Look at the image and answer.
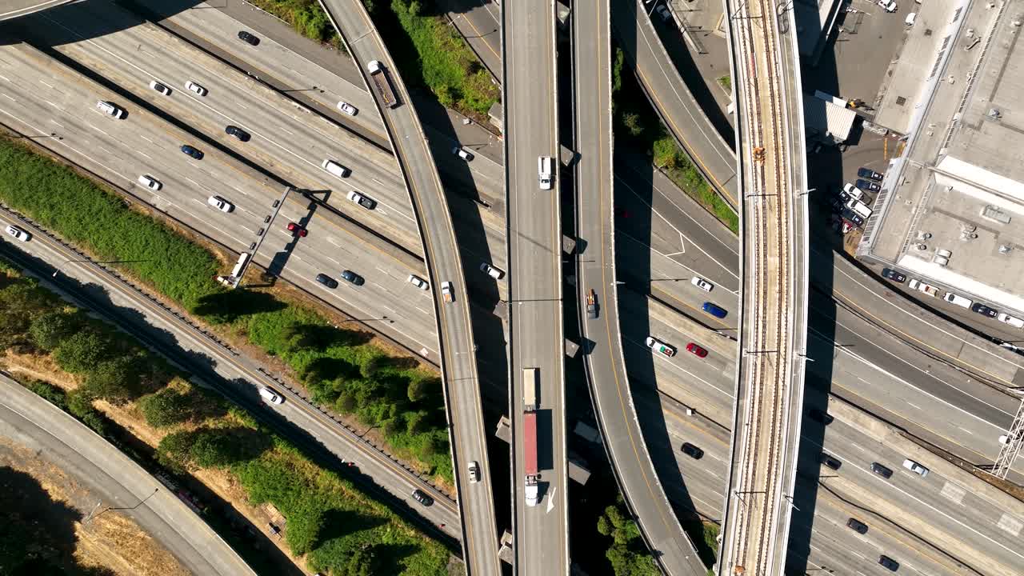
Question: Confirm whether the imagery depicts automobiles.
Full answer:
Yes, an automobile appears in the view.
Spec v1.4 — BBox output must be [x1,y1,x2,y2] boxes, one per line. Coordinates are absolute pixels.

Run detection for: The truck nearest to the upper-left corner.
[95,99,124,120]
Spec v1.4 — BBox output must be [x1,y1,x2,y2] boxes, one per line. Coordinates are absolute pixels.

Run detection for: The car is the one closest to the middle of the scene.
[480,263,502,280]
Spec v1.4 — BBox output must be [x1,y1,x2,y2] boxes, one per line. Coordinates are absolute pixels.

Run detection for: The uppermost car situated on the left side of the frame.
[239,30,260,46]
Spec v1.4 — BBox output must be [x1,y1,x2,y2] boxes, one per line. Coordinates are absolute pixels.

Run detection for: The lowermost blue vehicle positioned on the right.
[703,301,725,318]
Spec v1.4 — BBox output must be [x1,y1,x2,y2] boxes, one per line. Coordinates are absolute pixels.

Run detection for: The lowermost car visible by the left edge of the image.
[5,224,30,241]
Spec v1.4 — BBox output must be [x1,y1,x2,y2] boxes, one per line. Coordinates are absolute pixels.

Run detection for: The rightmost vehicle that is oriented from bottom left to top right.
[836,219,854,236]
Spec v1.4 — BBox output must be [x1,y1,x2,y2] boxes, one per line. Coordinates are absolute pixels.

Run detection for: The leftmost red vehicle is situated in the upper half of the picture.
[286,222,308,238]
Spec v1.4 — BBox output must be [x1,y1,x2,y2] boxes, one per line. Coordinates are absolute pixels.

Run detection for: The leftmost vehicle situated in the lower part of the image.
[259,387,282,403]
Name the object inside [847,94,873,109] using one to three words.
work vehicle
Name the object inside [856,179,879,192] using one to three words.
vehicle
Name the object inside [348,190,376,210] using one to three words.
vehicle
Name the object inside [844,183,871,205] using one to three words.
truck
